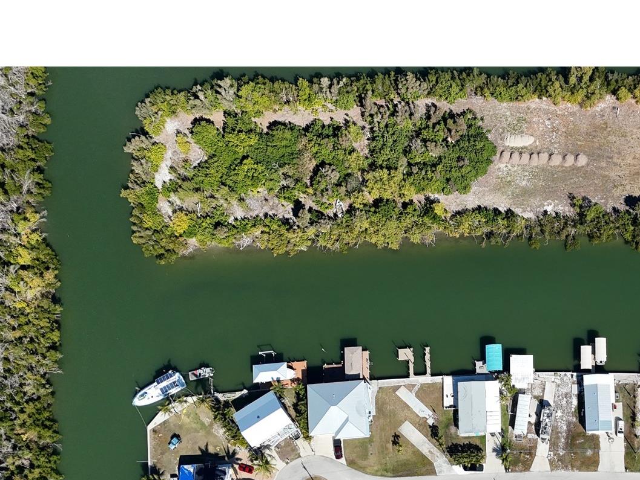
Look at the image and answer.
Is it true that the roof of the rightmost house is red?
No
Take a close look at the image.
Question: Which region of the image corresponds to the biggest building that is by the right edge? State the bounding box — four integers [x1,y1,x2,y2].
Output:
[583,374,615,433]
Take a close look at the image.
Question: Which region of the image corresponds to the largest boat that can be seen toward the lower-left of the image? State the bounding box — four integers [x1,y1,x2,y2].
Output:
[128,371,185,404]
